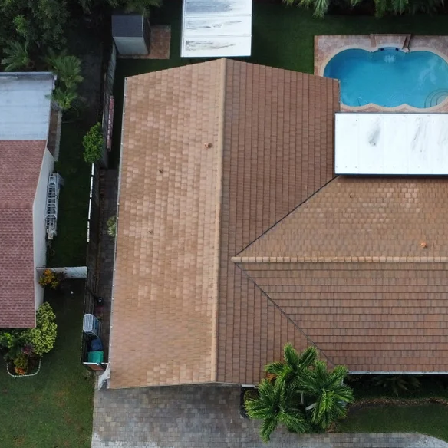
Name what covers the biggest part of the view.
buildings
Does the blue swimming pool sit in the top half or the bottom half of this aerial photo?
top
